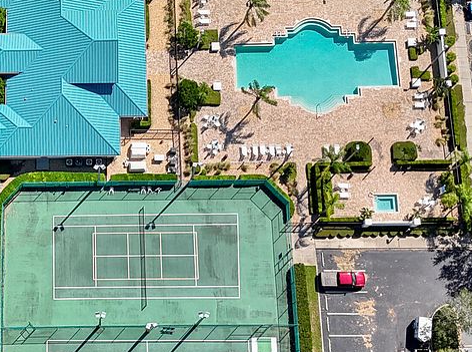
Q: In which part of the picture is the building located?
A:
top left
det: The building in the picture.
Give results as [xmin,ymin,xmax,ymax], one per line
[0,0,148,158]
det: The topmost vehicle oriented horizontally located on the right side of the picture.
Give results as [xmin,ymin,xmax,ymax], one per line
[318,270,365,289]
